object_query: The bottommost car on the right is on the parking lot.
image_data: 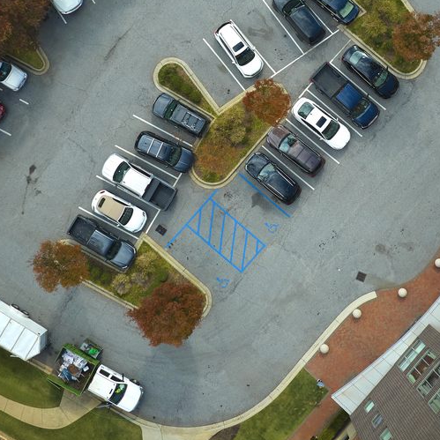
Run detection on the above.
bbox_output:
[246,152,298,208]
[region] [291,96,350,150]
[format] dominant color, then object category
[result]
white car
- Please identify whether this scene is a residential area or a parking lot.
parking lot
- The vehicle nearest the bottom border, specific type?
truck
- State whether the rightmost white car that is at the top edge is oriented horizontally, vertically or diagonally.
diagonally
